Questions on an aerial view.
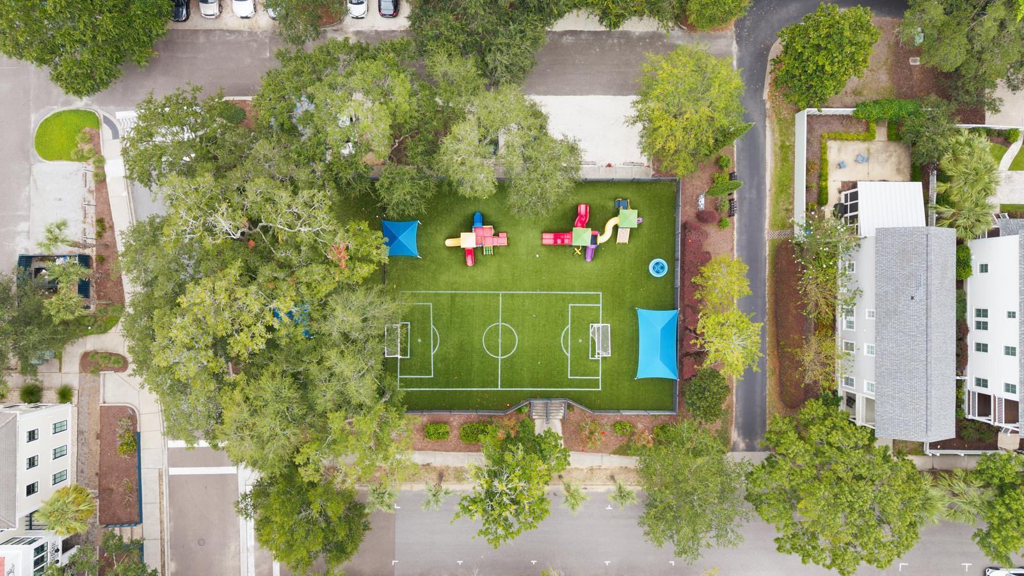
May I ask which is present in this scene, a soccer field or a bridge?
soccer field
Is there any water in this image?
No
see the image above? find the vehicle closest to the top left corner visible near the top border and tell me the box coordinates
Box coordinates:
[165,0,192,22]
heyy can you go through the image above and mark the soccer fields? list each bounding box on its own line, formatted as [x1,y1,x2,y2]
[395,289,605,392]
